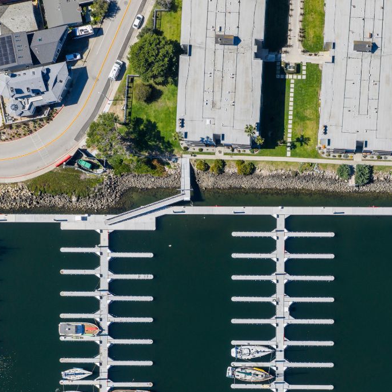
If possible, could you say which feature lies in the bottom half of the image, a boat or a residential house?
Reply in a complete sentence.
What appears in the bottom half of the image is a boat.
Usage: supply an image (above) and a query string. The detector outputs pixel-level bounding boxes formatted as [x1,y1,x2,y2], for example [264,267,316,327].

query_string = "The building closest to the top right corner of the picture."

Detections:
[318,0,392,158]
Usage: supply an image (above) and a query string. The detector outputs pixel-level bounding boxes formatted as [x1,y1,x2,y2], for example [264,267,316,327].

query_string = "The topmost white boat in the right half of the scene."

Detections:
[230,344,275,360]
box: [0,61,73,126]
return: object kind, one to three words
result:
house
